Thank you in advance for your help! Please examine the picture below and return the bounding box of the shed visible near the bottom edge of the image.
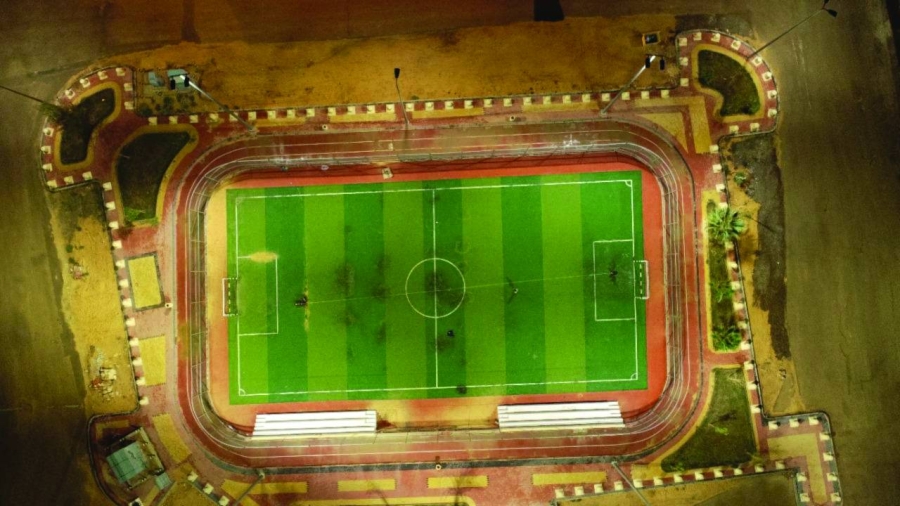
[106,425,170,489]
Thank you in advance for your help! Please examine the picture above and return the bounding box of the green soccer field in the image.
[226,170,649,405]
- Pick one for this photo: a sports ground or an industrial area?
sports ground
